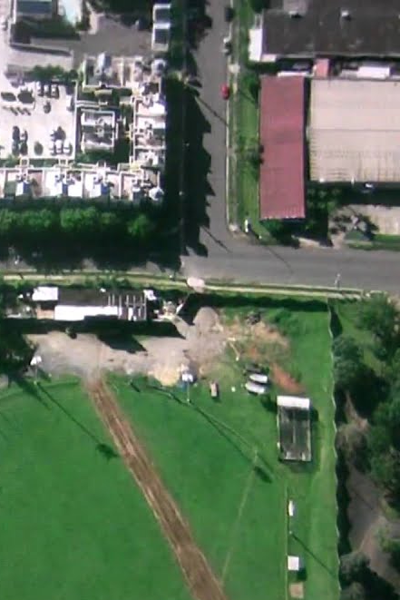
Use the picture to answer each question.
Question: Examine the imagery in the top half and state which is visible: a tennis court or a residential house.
residential house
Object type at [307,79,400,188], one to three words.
building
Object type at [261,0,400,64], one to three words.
building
